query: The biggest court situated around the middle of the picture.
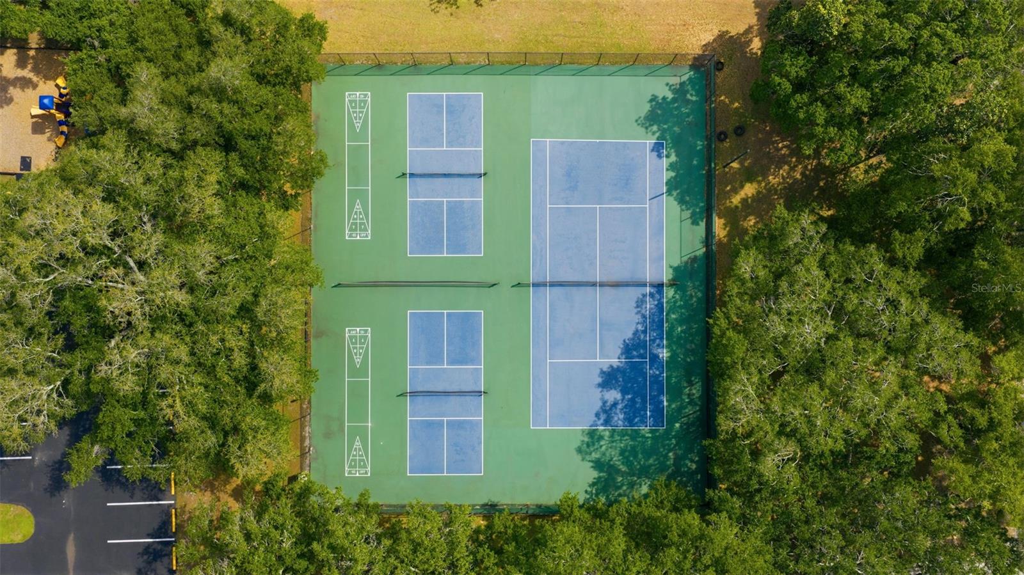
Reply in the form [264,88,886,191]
[531,139,665,428]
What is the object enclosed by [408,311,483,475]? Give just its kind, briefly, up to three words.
sports court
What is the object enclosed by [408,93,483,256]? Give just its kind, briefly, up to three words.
sports court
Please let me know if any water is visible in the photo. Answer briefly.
No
